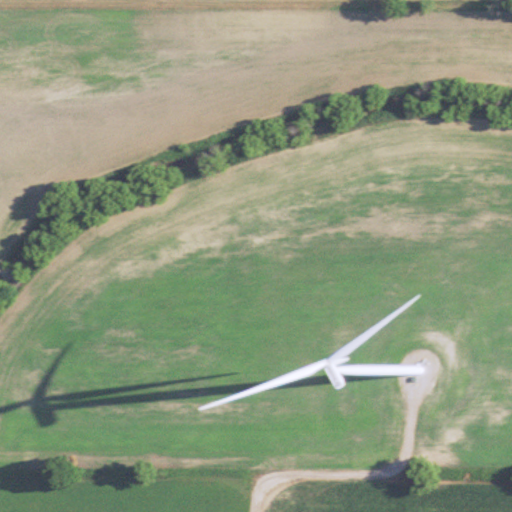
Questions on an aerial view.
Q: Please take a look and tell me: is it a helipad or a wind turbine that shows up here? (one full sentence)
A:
I can see a wind turbine in this picture.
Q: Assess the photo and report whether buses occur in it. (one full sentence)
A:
No, this view has no bus in it.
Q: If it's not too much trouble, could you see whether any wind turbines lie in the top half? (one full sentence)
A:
No, I see no wind turbine in the top half.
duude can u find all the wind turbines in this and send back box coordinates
[200,294,428,409]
